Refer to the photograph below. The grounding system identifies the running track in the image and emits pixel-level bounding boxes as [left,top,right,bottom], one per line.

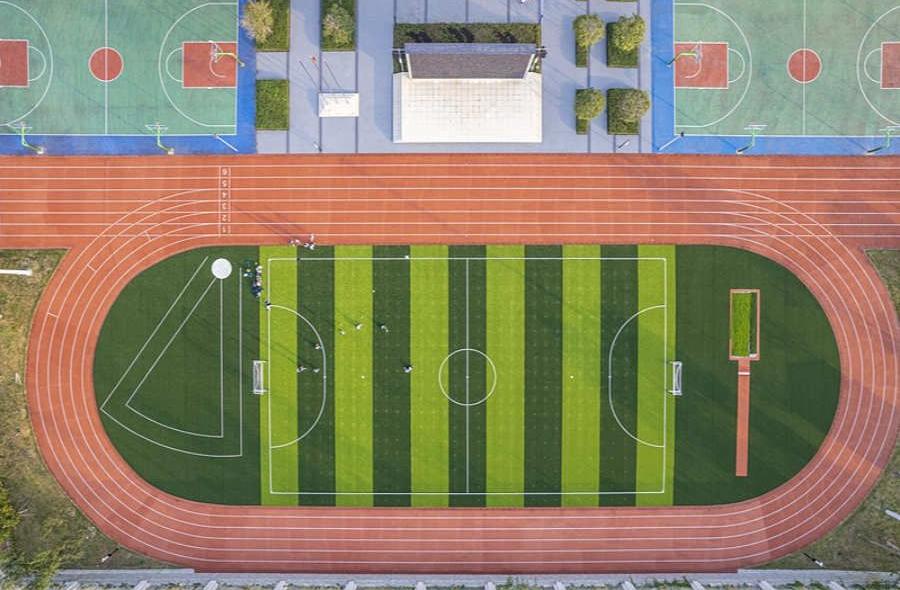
[0,154,900,573]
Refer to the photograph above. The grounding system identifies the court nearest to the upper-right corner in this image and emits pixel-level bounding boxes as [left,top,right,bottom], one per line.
[652,0,900,154]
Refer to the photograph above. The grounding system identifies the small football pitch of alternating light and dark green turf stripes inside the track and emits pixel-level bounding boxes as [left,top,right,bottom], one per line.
[260,246,675,506]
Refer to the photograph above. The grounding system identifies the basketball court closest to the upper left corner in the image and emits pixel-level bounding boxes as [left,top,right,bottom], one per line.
[0,0,257,154]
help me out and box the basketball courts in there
[0,0,257,154]
[652,0,900,154]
